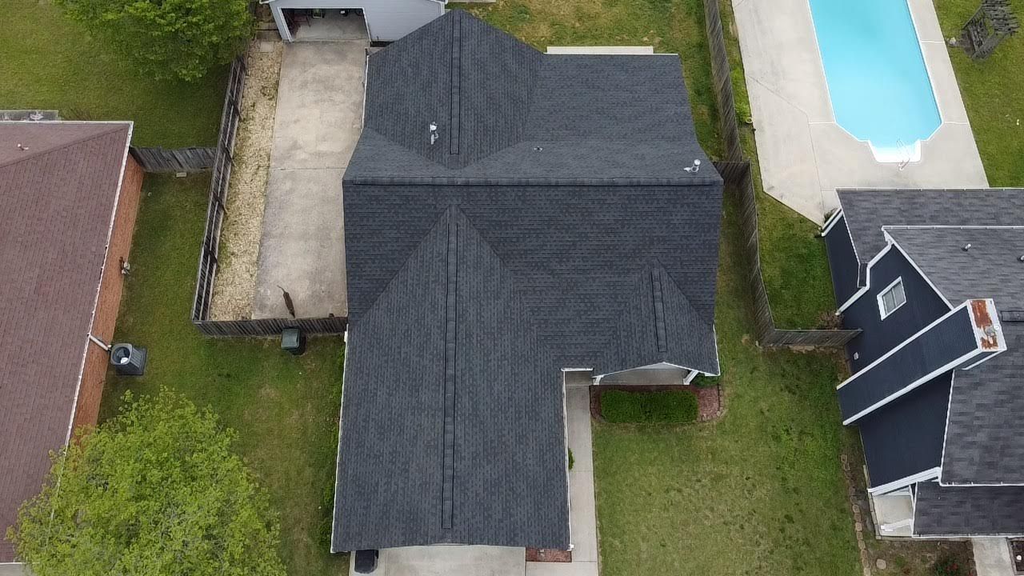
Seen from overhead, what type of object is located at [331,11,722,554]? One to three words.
house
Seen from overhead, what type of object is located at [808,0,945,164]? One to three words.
swimming pool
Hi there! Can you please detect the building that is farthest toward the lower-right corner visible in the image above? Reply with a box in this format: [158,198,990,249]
[822,186,1024,539]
